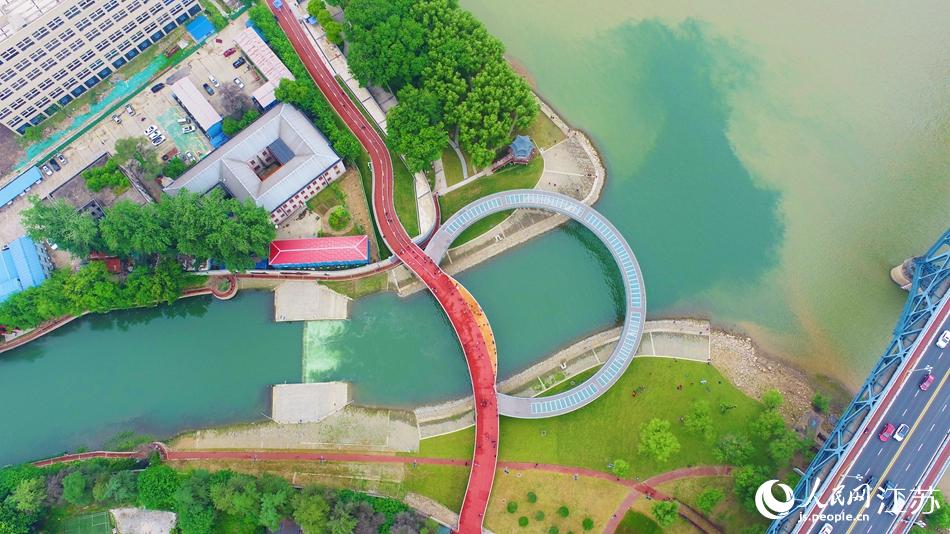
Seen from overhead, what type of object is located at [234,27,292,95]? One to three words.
shed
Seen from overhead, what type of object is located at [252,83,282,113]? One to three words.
shed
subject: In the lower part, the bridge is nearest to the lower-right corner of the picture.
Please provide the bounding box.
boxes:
[759,232,950,534]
